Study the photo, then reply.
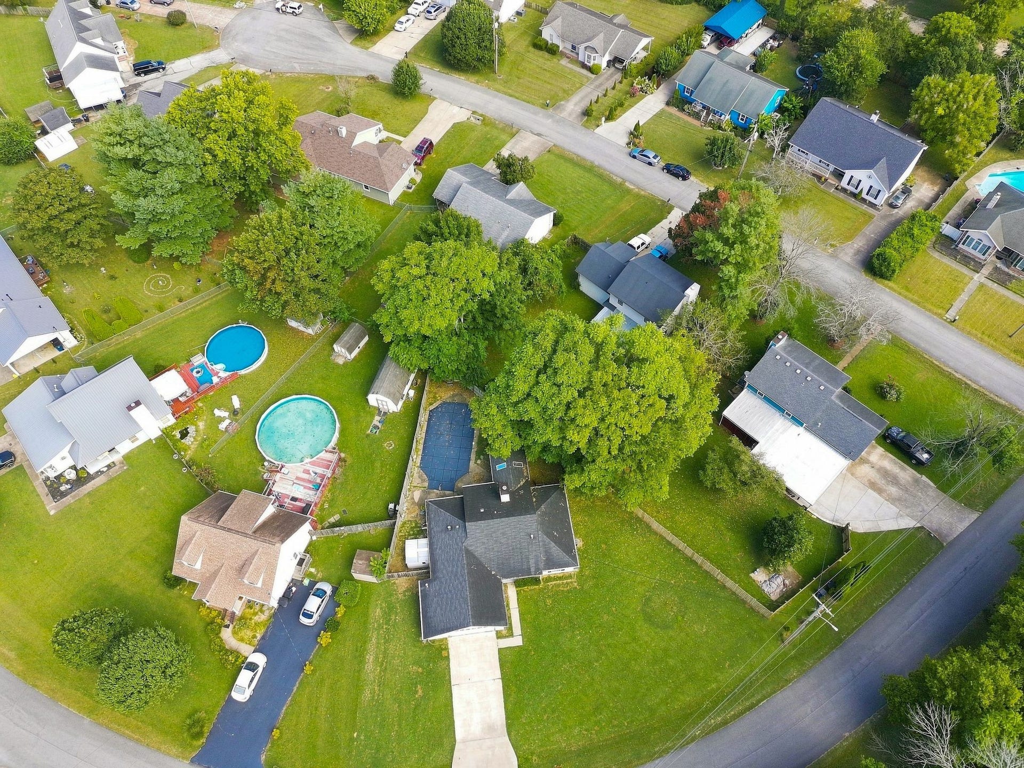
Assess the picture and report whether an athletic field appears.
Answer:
No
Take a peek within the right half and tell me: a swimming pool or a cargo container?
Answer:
swimming pool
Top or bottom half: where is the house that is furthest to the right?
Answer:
top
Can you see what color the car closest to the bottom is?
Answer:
white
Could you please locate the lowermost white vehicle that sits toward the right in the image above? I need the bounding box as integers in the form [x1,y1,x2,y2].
[627,230,656,249]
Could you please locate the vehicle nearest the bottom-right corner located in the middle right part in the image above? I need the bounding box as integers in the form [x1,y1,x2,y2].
[884,425,939,467]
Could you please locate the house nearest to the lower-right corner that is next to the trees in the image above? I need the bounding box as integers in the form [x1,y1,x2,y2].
[717,329,890,511]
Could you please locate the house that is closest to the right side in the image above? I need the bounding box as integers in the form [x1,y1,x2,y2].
[937,180,1024,276]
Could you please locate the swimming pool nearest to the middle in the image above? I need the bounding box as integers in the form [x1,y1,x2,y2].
[418,400,477,493]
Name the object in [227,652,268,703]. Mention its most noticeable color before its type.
white car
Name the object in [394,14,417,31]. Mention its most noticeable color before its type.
white car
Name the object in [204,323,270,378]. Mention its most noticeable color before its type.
blue swimming pool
